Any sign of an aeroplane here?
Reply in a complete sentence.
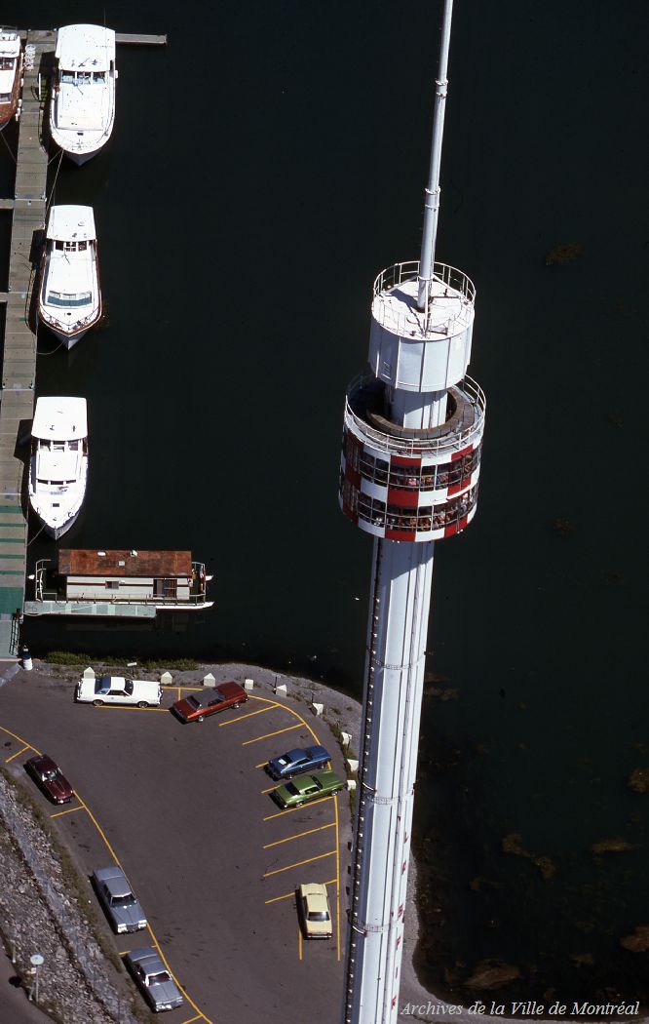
No, the picture doesn't show any aeroplane.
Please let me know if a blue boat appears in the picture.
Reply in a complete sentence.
No, there isn't any blue boat down there.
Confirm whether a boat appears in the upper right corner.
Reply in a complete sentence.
No, I see no boat in the upper right corner.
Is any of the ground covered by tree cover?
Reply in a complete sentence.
No, tree cover can't be seen anywhere here.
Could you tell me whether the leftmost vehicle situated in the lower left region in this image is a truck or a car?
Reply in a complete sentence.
From above, the leftmost vehicle situated in the lower left region can be identified as a car.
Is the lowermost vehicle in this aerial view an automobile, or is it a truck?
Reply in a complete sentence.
The lowermost vehicle is an automobile.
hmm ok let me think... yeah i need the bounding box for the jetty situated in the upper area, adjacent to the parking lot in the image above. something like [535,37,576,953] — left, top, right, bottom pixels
[0,32,163,629]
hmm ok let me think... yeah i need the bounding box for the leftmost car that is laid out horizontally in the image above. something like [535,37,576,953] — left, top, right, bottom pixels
[76,676,164,707]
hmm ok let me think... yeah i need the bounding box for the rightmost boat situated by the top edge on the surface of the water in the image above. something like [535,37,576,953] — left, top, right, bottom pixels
[48,4,118,166]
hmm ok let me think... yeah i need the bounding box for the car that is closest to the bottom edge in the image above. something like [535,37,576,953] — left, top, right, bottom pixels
[128,948,181,1012]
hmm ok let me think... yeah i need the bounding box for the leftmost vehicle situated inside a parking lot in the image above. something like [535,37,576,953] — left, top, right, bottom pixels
[26,755,76,807]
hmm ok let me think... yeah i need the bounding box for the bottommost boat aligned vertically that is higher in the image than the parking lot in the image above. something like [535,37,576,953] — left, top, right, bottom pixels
[26,398,90,543]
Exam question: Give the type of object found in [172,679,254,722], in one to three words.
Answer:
car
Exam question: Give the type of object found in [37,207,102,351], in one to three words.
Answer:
boat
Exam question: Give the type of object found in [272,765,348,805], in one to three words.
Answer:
car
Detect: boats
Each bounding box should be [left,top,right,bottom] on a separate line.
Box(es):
[28,549,213,613]
[48,4,118,166]
[0,15,24,139]
[37,207,102,351]
[26,398,90,543]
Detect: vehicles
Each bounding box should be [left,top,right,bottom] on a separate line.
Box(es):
[76,676,164,707]
[92,866,145,932]
[301,884,333,939]
[128,948,181,1012]
[26,755,76,807]
[264,739,338,776]
[272,765,348,805]
[172,679,254,722]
